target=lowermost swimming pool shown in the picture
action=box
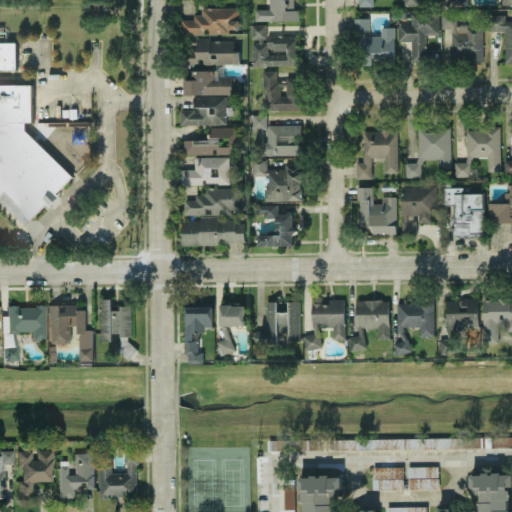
[114,454,126,470]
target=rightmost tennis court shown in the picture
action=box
[220,448,250,512]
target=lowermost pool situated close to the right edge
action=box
[489,184,509,203]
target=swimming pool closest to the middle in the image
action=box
[254,218,275,234]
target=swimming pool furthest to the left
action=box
[18,335,48,362]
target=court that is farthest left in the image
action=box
[188,448,220,512]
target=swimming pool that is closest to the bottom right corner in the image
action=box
[319,336,348,360]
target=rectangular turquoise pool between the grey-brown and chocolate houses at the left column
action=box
[217,64,247,82]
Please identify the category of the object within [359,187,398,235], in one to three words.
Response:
house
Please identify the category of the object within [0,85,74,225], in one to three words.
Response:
building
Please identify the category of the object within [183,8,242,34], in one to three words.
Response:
house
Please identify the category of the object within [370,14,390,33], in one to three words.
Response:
swimming pool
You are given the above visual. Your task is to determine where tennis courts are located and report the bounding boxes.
[220,448,250,512]
[188,448,220,512]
